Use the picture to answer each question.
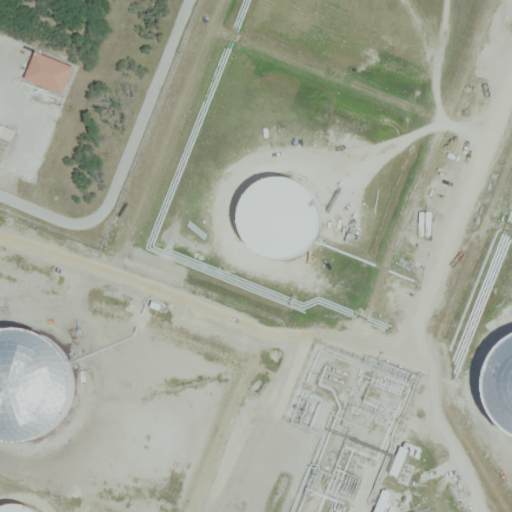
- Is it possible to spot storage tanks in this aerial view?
Yes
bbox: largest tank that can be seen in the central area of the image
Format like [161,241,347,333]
[234,176,322,262]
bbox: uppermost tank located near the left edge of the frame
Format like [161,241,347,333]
[0,327,76,442]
